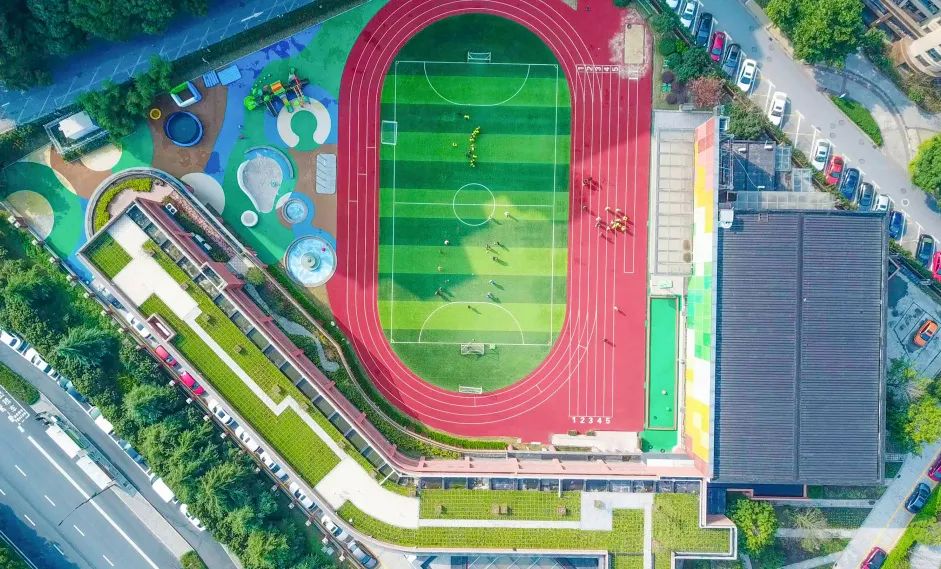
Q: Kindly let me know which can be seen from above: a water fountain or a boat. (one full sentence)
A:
Visible in the photo is a water fountain.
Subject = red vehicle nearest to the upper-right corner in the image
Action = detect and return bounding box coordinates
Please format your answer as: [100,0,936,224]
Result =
[823,154,844,185]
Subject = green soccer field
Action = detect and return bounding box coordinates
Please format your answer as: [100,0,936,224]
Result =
[379,12,571,393]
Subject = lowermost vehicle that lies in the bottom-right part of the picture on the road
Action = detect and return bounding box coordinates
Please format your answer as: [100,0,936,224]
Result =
[861,544,888,569]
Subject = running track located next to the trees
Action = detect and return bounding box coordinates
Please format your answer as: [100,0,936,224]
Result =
[326,0,663,440]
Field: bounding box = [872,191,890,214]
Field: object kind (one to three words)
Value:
car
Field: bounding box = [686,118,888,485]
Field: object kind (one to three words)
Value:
building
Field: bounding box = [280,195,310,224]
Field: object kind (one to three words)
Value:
fountain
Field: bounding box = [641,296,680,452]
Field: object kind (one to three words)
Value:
sports court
